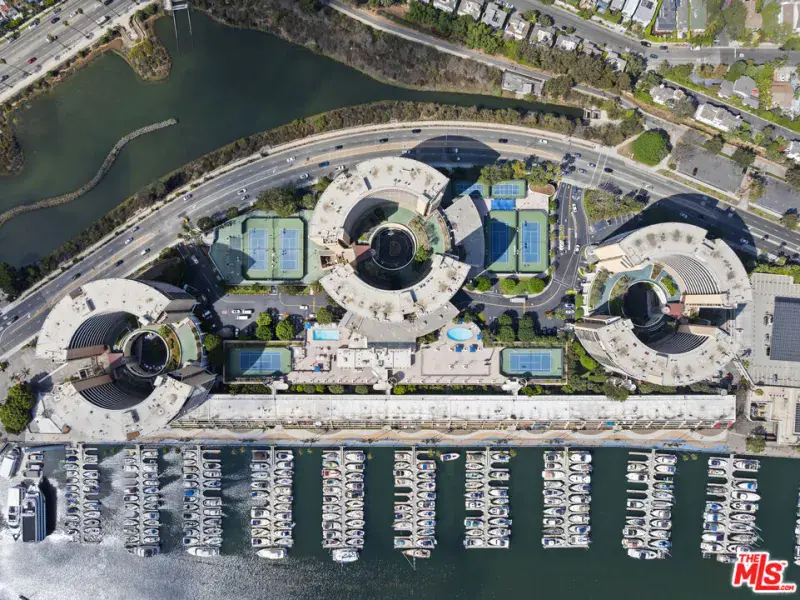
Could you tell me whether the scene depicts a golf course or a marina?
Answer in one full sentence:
It's a marina.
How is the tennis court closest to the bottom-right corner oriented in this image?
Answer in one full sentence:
The tennis court closest to the bottom-right corner runs from side to side in the image.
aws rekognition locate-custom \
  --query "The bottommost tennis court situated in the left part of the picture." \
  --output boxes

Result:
[227,347,291,379]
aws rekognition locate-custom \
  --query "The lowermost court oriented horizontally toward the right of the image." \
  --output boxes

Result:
[501,348,565,379]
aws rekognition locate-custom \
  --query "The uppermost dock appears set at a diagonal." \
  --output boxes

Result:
[0,117,179,223]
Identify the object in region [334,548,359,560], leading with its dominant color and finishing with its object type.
white boat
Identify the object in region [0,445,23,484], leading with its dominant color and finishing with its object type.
white boat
